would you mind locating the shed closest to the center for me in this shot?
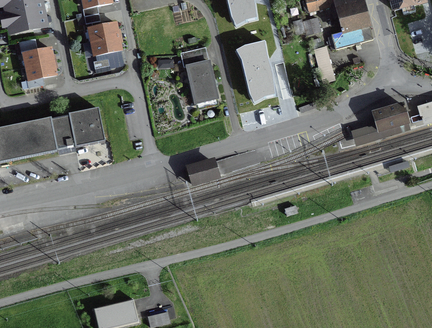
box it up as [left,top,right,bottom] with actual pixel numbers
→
[186,157,221,184]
